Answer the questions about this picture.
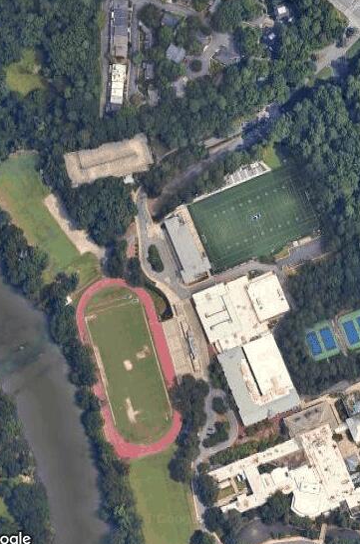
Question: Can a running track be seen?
Yes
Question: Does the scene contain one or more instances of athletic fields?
Yes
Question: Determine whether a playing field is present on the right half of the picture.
Yes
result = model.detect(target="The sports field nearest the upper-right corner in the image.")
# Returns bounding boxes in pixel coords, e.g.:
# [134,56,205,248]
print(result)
[186,160,324,271]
